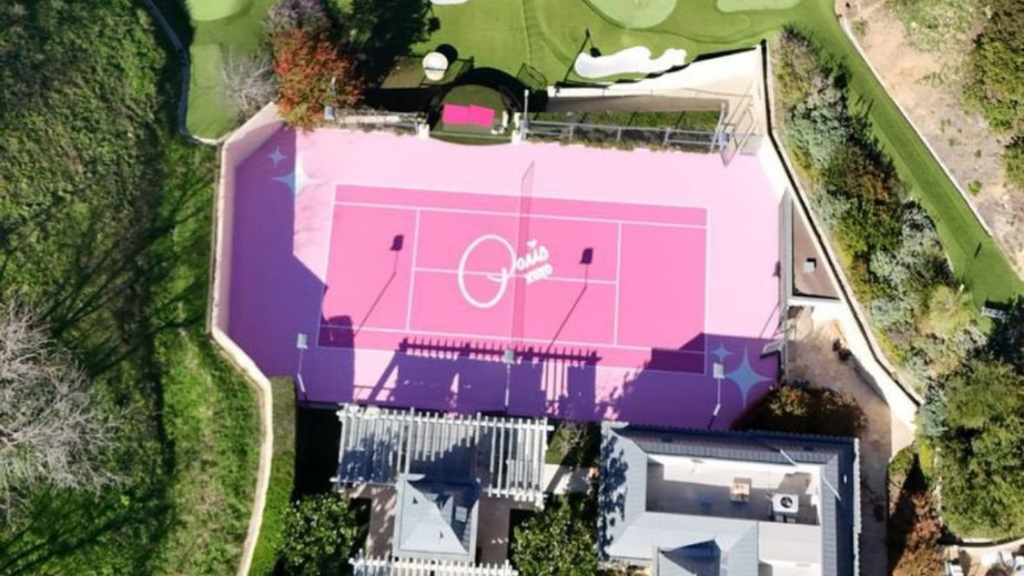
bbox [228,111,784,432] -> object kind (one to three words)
tennis court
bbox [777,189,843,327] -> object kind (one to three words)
shed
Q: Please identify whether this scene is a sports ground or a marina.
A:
sports ground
